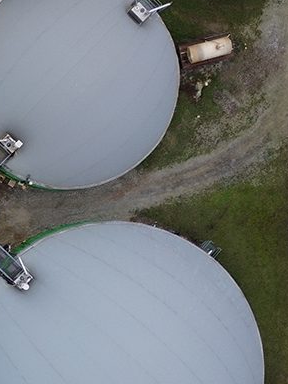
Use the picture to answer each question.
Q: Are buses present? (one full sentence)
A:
No, no bus is visible in the scene.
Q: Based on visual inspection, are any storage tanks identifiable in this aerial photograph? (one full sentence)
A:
Yes, I can see a storage tank in this picture.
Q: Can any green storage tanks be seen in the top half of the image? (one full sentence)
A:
No, there is no green storage tank in the top half of the image.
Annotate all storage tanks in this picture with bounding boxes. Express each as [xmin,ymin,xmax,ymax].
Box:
[0,0,180,190]
[0,218,265,384]
[175,34,234,71]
